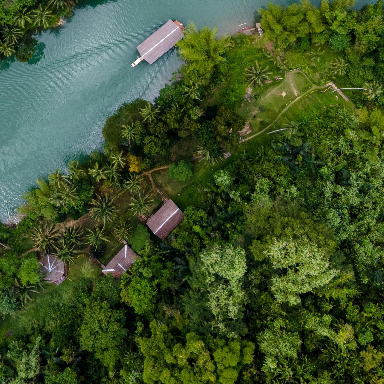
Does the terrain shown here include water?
Yes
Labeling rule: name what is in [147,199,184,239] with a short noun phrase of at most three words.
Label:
shed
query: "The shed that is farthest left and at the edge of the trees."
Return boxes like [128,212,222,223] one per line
[40,257,65,286]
